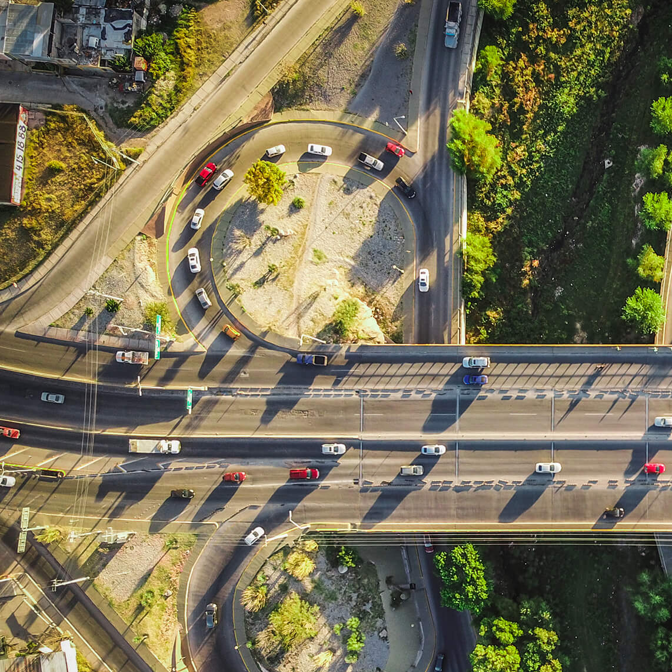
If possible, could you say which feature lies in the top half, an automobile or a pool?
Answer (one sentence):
There is an automobile in the top half.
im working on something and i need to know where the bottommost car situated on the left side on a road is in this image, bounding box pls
[205,604,218,628]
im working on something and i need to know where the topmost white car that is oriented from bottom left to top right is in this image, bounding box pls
[212,169,234,191]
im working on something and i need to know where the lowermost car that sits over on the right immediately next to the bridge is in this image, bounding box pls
[423,533,435,557]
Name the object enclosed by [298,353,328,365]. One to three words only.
vehicle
